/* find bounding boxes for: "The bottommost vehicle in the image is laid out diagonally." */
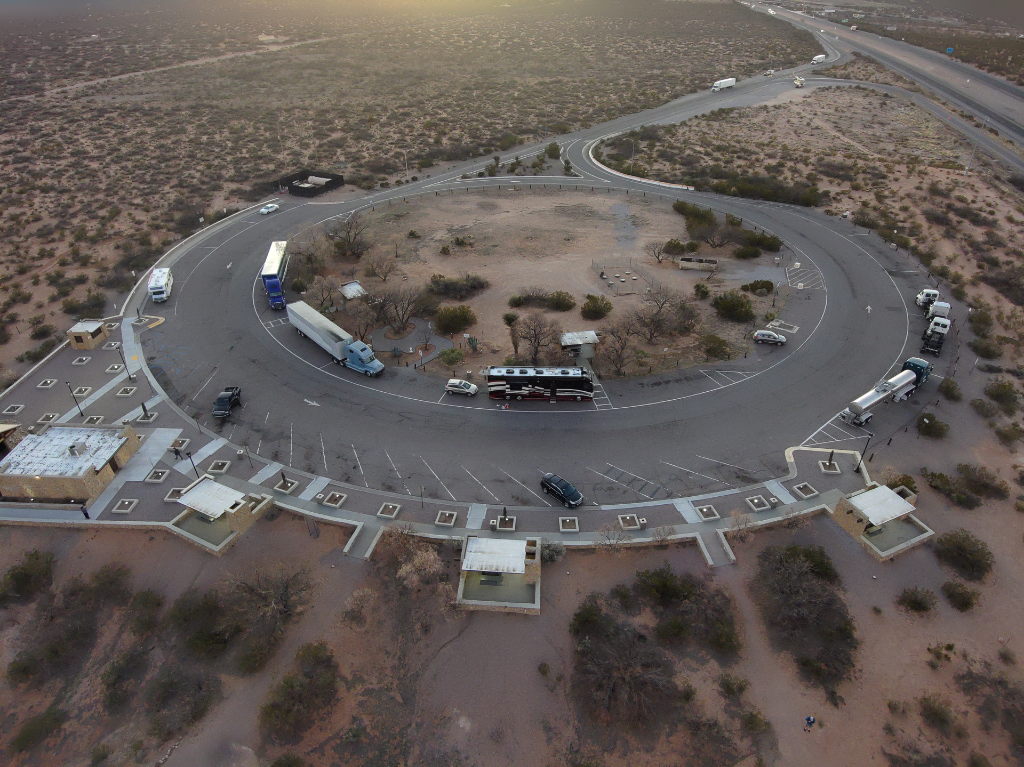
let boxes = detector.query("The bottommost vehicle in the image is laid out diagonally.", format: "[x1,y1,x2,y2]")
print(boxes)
[539,471,584,507]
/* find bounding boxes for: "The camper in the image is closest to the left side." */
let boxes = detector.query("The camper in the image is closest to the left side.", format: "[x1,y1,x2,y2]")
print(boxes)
[148,267,172,300]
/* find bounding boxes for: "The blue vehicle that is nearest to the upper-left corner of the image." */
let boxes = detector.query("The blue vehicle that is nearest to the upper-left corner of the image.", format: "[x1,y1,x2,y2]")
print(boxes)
[264,276,285,307]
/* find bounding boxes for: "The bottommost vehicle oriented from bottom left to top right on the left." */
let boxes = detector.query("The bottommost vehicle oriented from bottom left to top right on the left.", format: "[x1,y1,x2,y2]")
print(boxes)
[209,386,245,417]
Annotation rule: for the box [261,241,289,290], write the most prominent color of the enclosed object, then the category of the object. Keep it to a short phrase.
white trailer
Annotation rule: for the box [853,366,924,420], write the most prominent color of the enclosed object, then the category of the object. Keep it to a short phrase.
gray trailer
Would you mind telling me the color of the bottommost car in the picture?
black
